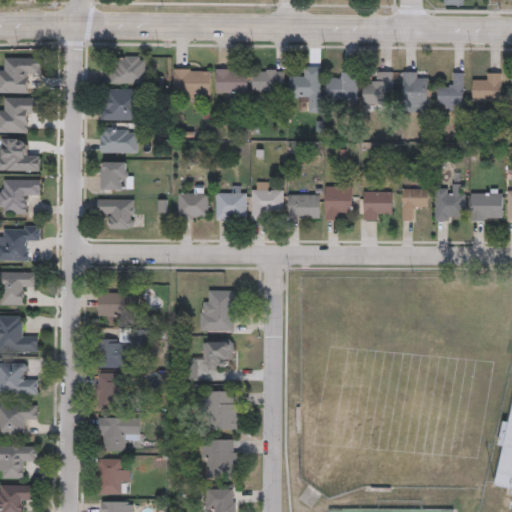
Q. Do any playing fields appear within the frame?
Yes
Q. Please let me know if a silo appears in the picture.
No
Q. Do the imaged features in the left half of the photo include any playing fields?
No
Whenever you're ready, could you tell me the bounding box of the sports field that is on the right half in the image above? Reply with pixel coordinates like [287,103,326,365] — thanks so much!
[315,346,494,458]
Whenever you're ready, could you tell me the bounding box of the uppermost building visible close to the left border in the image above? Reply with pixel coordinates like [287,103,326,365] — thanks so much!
[0,57,40,92]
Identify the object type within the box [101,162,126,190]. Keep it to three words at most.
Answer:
house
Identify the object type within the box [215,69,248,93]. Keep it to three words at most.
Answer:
house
